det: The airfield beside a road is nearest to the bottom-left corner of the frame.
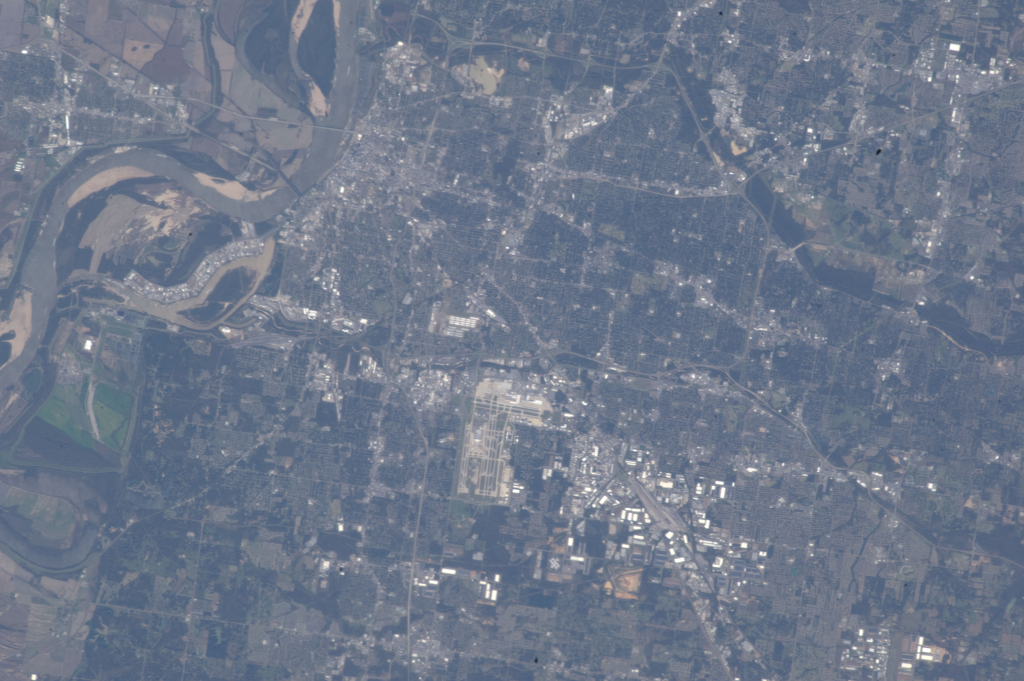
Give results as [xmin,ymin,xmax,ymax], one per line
[451,378,553,500]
